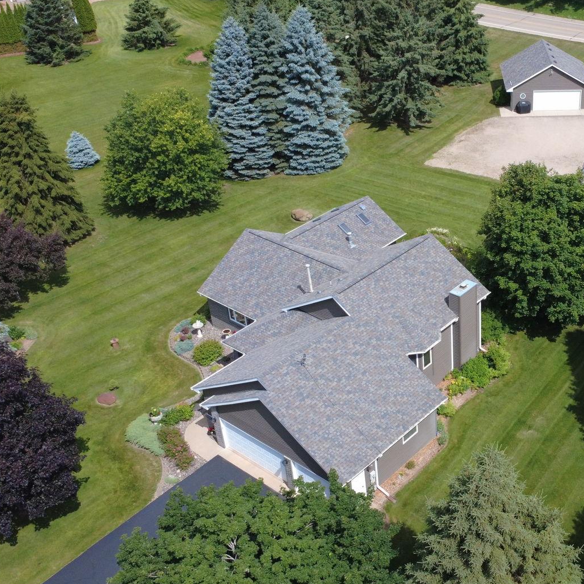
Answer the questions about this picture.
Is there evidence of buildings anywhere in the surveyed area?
Yes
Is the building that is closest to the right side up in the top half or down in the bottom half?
top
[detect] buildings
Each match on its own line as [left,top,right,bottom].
[190,196,492,514]
[500,40,584,112]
